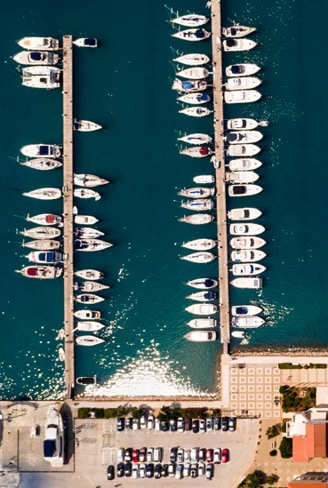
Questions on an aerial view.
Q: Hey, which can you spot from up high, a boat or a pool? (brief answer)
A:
boat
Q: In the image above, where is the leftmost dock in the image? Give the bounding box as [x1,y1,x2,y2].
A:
[65,34,77,400]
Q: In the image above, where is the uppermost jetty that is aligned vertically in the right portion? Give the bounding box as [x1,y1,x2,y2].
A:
[212,0,231,357]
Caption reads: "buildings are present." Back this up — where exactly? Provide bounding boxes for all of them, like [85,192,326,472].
[288,478,328,488]
[287,405,328,463]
